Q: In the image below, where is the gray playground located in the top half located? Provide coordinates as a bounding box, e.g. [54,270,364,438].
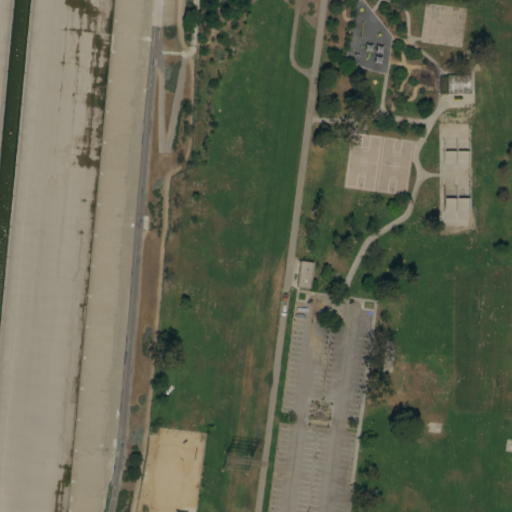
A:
[352,0,392,76]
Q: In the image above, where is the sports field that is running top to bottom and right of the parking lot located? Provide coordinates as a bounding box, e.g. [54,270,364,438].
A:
[454,268,512,412]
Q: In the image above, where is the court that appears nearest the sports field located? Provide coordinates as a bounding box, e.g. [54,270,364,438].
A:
[440,174,472,226]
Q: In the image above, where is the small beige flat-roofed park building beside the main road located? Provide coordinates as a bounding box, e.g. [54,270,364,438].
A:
[299,261,316,290]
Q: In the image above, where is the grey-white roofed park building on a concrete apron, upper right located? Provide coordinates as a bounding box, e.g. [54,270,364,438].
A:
[450,76,474,94]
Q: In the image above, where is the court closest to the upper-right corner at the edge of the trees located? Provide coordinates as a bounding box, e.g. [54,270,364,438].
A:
[422,4,466,46]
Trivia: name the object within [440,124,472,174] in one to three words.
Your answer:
sports court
